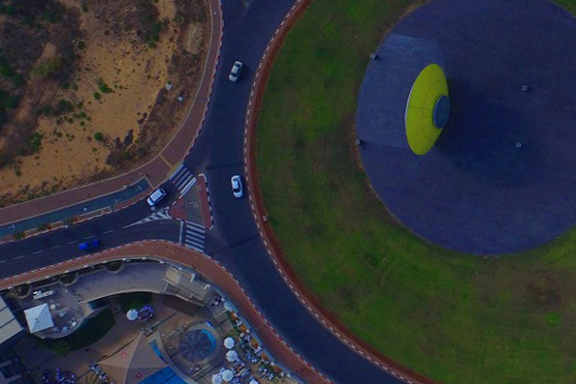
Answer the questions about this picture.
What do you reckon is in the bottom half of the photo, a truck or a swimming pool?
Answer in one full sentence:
You can see a swimming pool in the bottom half of the photo.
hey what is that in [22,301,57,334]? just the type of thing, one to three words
tent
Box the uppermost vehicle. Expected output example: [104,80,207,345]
[228,61,241,81]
